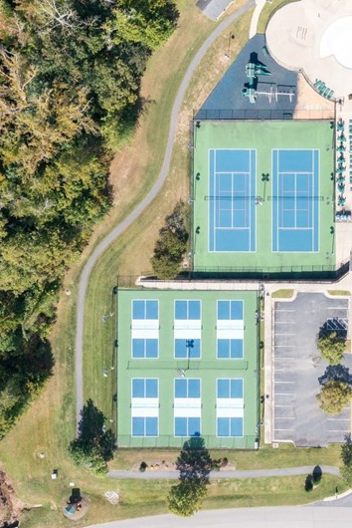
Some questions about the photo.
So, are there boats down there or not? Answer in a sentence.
No, there is no boat in the image.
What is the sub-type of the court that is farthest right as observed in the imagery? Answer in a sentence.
What you see as the court that is farthest right is a tennis court.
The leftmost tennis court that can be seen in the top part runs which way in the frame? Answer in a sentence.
The leftmost tennis court that can be seen in the top part is laid out vertically.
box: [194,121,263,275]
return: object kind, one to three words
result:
tennis court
